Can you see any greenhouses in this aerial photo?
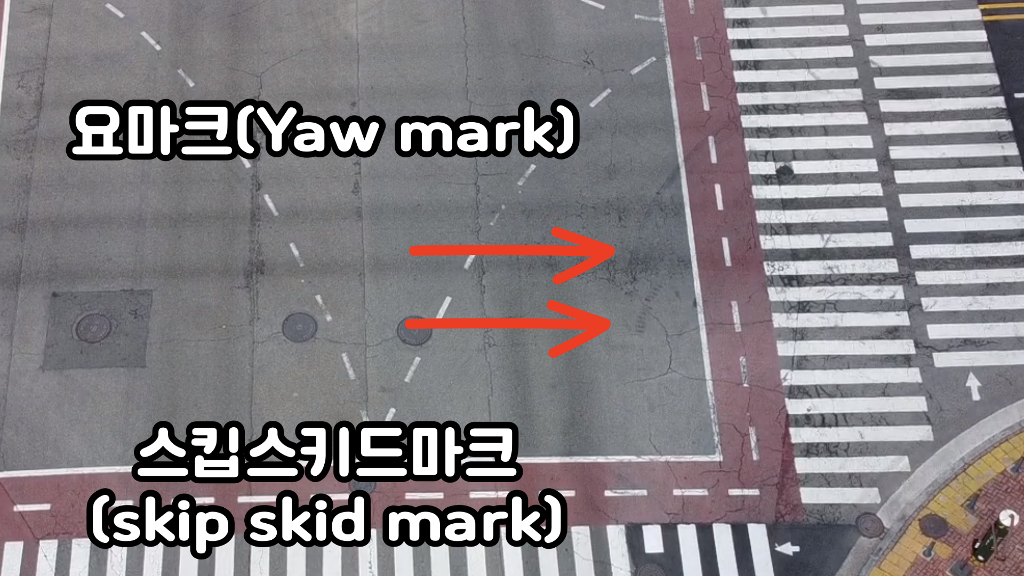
No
